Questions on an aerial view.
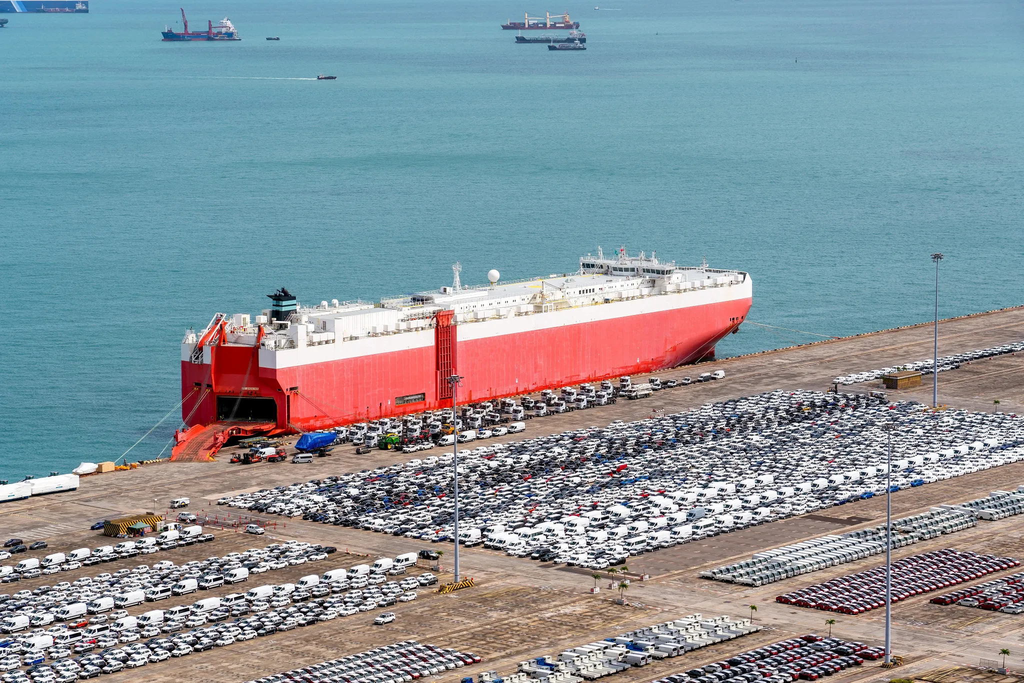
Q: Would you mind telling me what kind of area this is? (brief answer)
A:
port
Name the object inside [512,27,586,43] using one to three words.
ship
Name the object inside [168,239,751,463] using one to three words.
ship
